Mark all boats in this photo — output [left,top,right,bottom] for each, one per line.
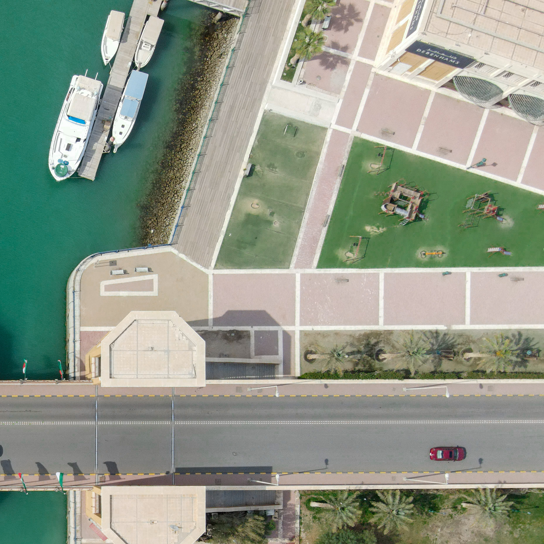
[49,71,101,181]
[113,64,150,152]
[101,2,126,65]
[136,7,164,71]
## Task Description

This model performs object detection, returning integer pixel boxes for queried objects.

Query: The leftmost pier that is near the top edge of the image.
[78,0,161,181]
